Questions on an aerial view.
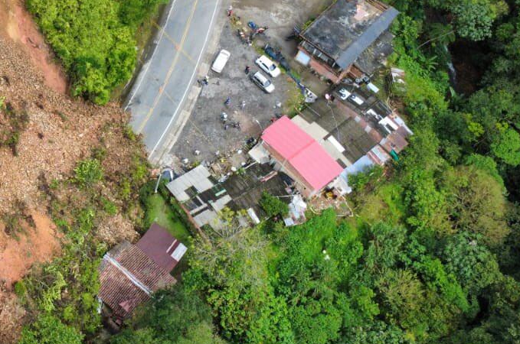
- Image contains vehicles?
Yes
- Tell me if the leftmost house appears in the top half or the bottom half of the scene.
bottom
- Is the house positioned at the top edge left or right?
right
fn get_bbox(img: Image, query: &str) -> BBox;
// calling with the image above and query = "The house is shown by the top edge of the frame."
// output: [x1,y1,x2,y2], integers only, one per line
[296,0,400,87]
